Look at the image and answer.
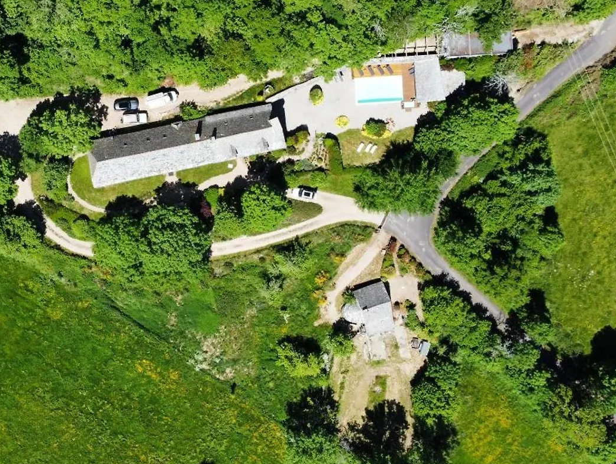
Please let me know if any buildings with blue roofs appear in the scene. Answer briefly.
No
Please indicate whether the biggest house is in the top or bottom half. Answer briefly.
top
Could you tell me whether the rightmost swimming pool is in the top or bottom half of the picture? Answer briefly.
top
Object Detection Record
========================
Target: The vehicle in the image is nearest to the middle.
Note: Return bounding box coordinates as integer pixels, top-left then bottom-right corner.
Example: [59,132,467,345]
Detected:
[287,185,316,200]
